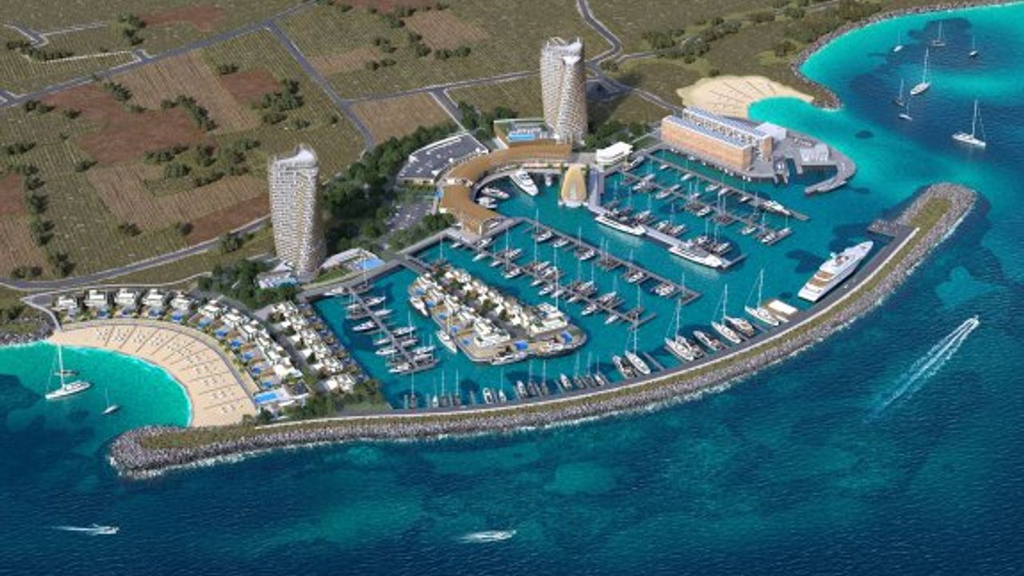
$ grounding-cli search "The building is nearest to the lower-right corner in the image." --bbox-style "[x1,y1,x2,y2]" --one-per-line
[760,297,802,320]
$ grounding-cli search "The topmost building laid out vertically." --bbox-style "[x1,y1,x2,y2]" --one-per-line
[544,39,591,151]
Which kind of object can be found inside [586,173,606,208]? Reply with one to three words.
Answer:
pier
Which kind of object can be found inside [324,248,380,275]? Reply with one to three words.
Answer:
building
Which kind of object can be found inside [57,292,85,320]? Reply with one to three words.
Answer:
house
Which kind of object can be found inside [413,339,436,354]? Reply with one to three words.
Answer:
boat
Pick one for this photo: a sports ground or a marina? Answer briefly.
marina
